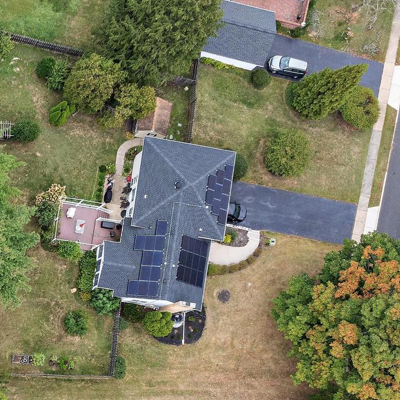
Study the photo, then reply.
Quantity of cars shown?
2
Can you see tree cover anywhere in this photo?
Yes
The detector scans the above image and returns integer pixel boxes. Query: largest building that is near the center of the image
[91,136,237,345]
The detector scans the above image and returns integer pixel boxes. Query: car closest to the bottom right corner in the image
[228,203,252,225]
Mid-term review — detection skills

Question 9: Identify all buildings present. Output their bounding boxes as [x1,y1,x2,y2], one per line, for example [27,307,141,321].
[206,0,278,69]
[91,136,237,345]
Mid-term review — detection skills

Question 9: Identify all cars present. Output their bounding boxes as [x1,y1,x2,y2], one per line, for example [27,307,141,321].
[228,203,252,225]
[265,53,313,80]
